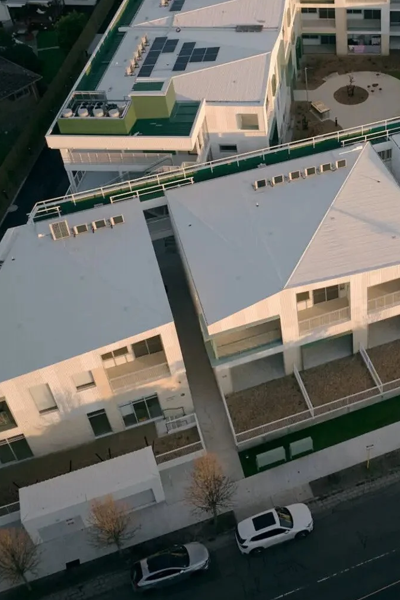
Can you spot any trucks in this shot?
No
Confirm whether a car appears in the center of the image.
No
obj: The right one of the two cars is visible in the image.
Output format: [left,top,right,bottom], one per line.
[236,506,314,561]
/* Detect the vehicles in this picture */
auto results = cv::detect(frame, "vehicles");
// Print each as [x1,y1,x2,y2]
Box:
[129,544,211,600]
[236,506,314,561]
